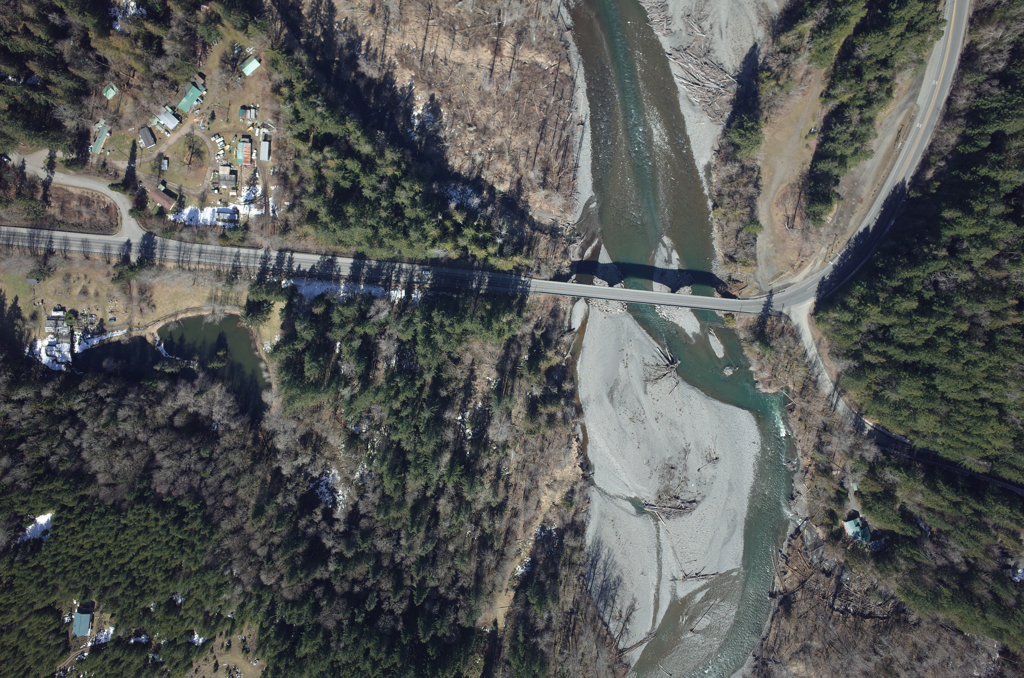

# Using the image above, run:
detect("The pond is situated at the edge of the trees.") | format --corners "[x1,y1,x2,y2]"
[77,314,269,427]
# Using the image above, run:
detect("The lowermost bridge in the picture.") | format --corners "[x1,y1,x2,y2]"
[552,282,738,311]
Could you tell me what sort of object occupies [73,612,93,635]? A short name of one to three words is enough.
house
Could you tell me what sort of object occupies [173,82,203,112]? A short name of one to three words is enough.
house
